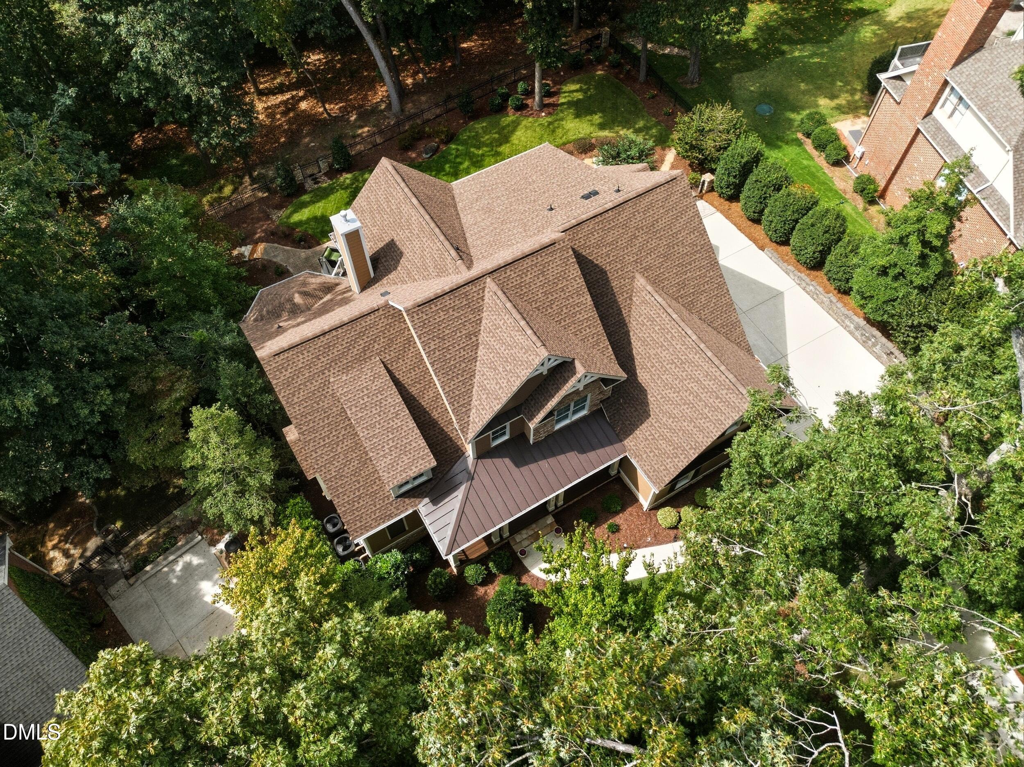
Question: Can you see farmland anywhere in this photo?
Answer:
No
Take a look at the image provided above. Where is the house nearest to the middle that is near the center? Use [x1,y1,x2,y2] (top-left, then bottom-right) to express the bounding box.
[242,140,805,574]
